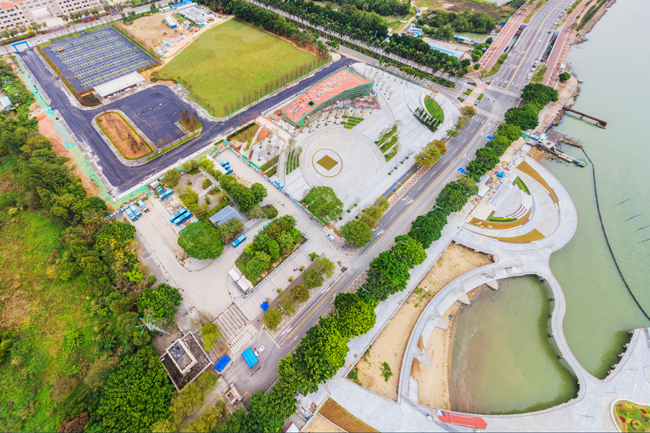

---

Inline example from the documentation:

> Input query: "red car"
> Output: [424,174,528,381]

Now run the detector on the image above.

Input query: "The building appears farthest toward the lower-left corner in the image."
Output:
[157,330,209,385]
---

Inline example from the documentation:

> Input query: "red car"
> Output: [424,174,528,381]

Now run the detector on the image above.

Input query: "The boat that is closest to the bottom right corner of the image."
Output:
[438,409,489,430]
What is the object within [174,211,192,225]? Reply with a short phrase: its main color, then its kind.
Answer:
blue vehicle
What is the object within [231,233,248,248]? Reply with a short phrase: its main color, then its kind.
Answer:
blue vehicle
